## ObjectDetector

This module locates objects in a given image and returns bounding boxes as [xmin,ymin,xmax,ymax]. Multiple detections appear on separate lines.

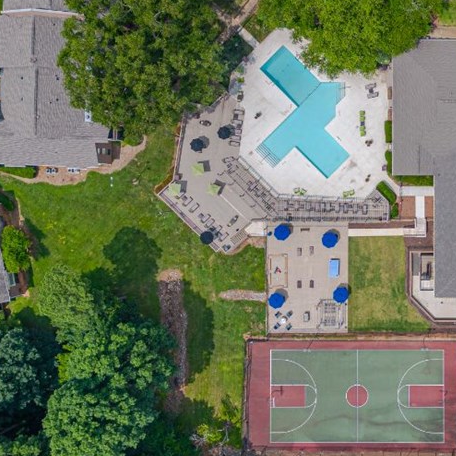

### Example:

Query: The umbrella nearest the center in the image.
[200,231,214,244]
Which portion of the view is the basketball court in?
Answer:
bottom right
